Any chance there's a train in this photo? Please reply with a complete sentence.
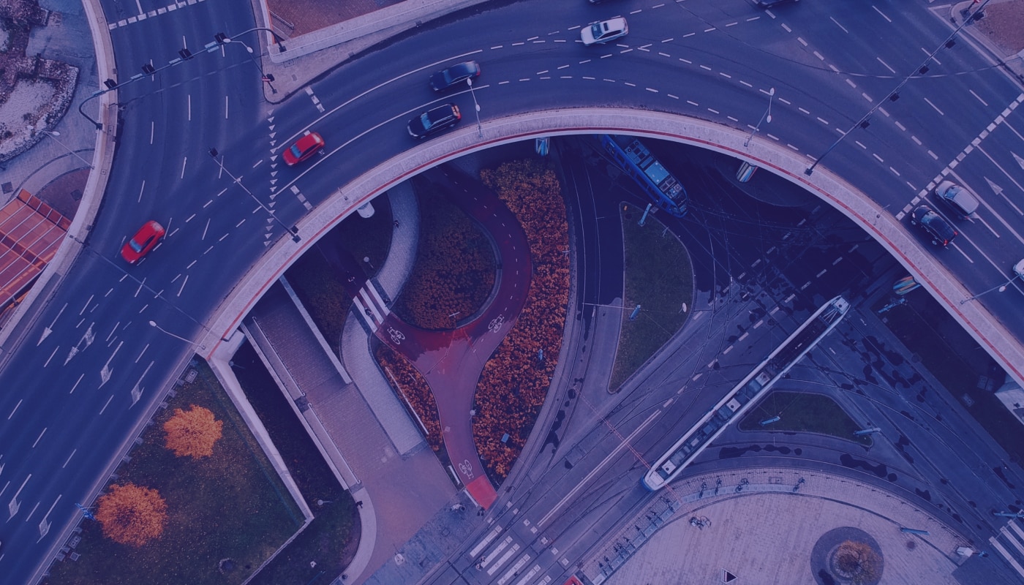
Yes, a train appears in the view.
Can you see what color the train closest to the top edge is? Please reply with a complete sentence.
The color of the train closest to the top edge is blue.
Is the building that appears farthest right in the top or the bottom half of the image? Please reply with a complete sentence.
The bottom half of the photo is where the building that appears farthest right is.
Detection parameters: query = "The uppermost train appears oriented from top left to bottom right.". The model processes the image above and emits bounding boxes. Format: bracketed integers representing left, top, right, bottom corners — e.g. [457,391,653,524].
[587,135,687,226]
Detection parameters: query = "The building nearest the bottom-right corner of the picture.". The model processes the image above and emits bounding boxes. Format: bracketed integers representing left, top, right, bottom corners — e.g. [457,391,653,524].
[994,376,1024,425]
